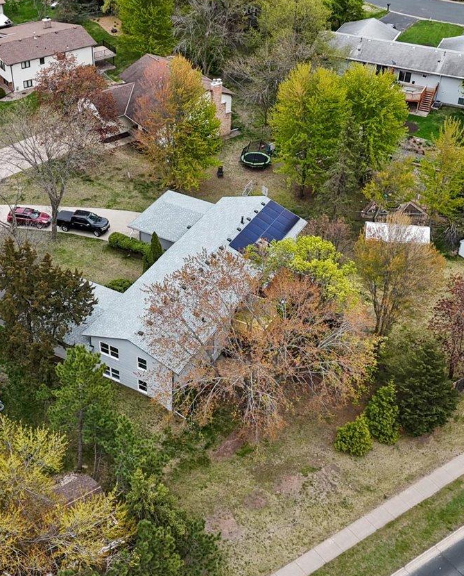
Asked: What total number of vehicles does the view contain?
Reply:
2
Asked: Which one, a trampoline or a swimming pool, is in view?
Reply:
trampoline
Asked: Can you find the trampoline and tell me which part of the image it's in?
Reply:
top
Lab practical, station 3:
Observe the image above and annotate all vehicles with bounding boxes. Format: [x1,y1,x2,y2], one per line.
[57,207,113,235]
[7,203,50,227]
